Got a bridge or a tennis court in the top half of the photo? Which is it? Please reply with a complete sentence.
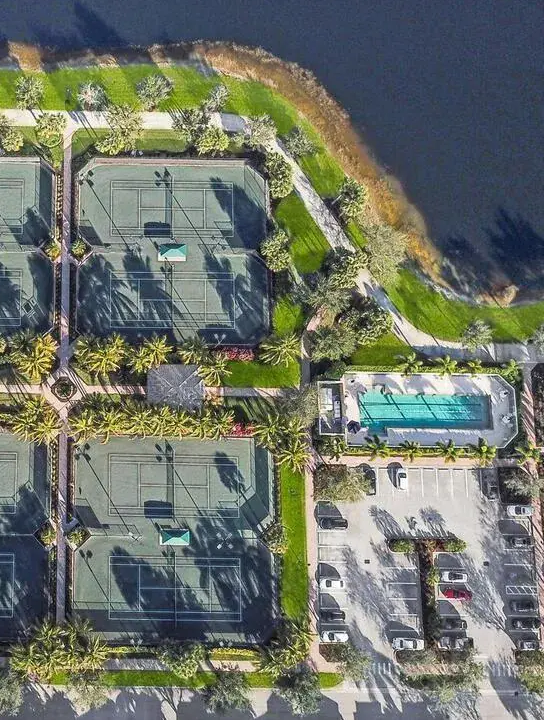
What appears in the top half of the photo is a tennis court.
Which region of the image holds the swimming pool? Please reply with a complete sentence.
The swimming pool sits in the right section of the image.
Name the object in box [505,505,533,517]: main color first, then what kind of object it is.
white vehicle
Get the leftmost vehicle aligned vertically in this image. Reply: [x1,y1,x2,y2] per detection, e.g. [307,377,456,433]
[364,469,377,496]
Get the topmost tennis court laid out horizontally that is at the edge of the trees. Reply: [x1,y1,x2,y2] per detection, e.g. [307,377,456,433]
[78,159,268,250]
